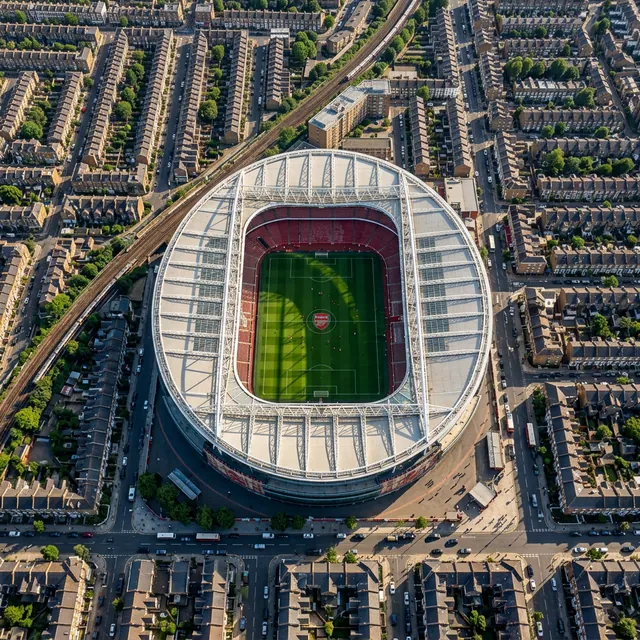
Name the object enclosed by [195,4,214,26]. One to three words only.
building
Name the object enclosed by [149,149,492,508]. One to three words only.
stadium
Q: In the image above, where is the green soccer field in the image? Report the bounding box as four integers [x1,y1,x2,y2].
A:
[249,247,392,402]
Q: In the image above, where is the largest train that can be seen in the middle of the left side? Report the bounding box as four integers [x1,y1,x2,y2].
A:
[48,262,128,358]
